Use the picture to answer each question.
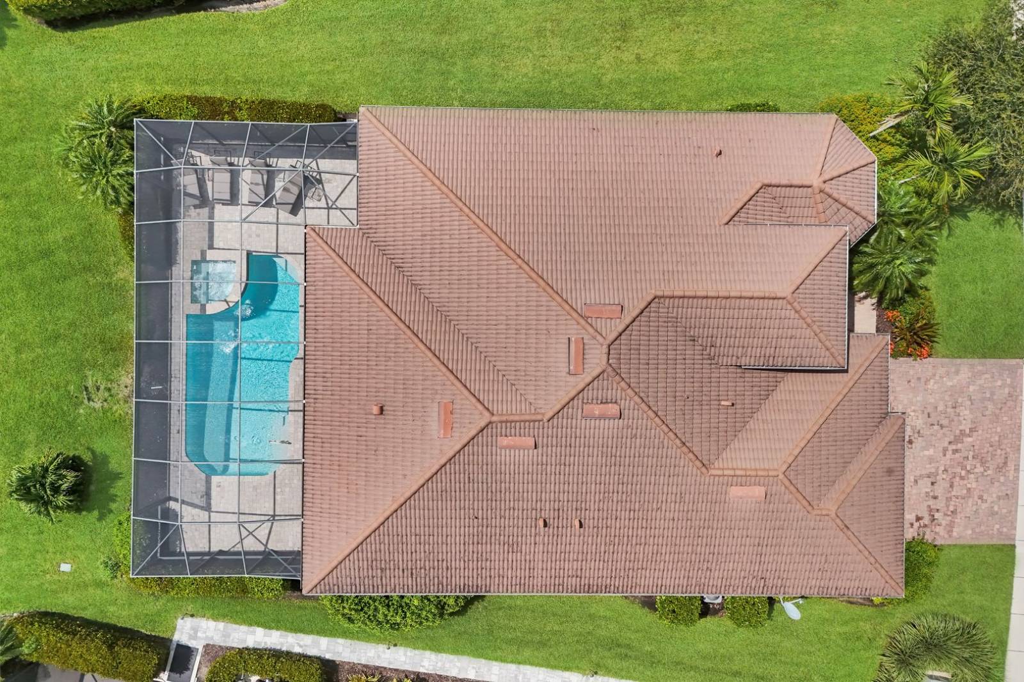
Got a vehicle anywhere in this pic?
No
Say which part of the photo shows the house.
center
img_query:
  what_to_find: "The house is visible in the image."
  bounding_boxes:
[301,106,905,599]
